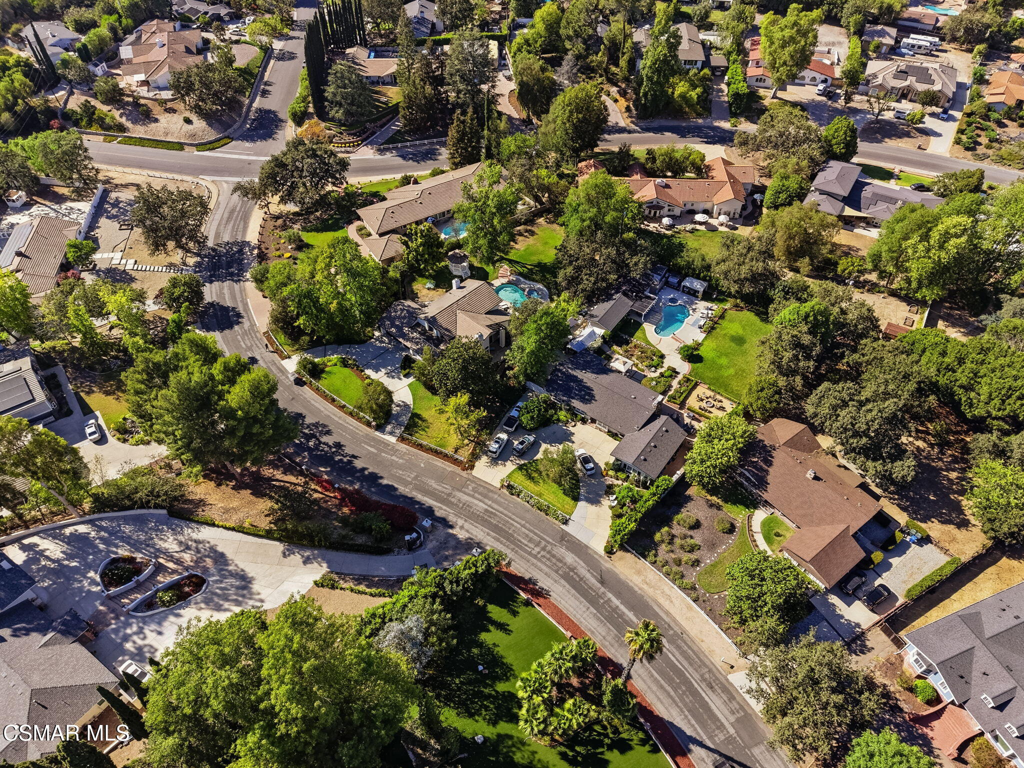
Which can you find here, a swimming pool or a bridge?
swimming pool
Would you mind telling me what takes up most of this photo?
trees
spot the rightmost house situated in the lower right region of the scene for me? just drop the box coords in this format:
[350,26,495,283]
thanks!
[892,596,1024,768]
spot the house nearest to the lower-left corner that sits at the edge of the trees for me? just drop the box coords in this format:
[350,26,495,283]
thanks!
[0,547,121,768]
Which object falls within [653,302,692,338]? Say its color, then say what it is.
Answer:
blue swimming pool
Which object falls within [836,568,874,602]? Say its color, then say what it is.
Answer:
black car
